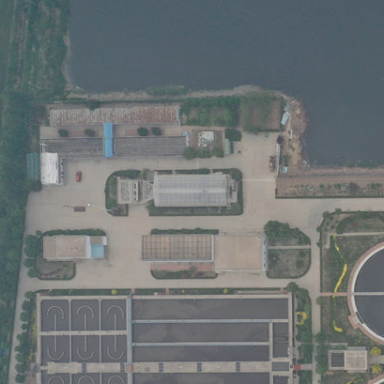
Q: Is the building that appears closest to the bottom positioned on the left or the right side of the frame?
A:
right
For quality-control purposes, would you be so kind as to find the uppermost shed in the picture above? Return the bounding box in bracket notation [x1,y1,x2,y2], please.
[50,106,183,125]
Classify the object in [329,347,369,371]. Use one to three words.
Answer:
building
